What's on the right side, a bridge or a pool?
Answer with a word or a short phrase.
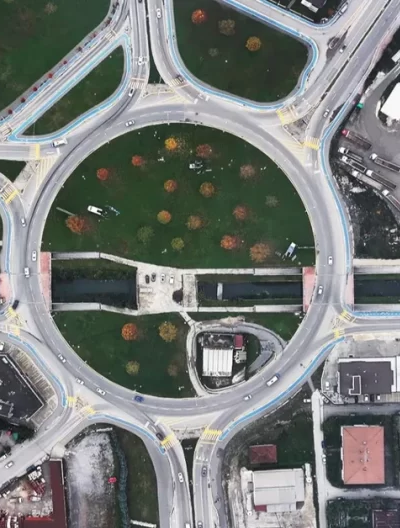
bridge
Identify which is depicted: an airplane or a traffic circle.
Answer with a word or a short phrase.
traffic circle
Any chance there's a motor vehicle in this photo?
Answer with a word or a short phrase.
Yes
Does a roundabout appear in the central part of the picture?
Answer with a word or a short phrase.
Yes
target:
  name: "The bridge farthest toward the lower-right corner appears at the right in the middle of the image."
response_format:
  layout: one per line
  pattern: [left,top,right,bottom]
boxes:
[302,266,353,311]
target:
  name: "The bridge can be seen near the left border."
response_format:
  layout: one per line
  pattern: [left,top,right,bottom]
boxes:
[0,252,51,309]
